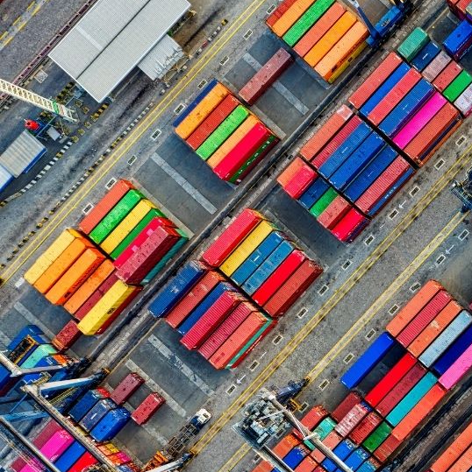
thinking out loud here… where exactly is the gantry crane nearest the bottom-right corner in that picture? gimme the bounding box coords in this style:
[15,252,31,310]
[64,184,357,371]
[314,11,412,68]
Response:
[225,374,401,472]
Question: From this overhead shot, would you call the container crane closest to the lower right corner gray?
Yes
